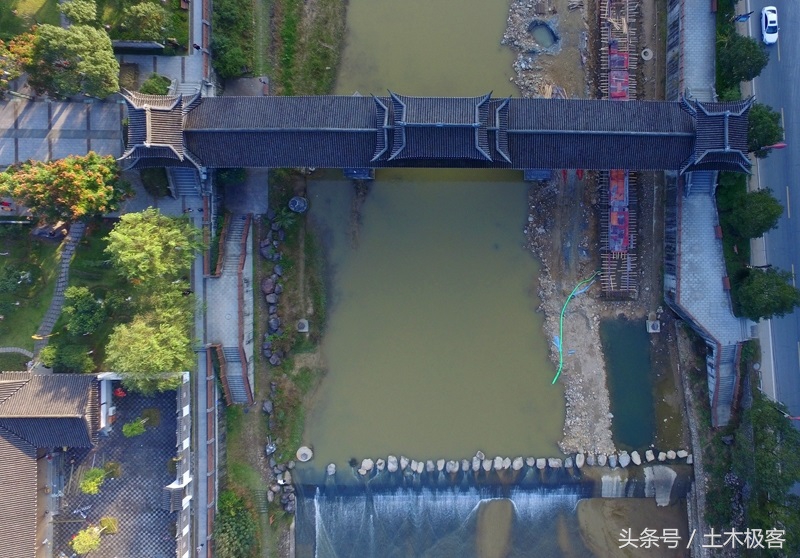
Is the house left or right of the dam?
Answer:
left of it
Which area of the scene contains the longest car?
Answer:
top right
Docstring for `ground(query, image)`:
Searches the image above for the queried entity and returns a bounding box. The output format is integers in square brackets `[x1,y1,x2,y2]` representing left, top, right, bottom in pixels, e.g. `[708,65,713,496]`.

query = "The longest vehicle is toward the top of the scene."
[758,5,780,47]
